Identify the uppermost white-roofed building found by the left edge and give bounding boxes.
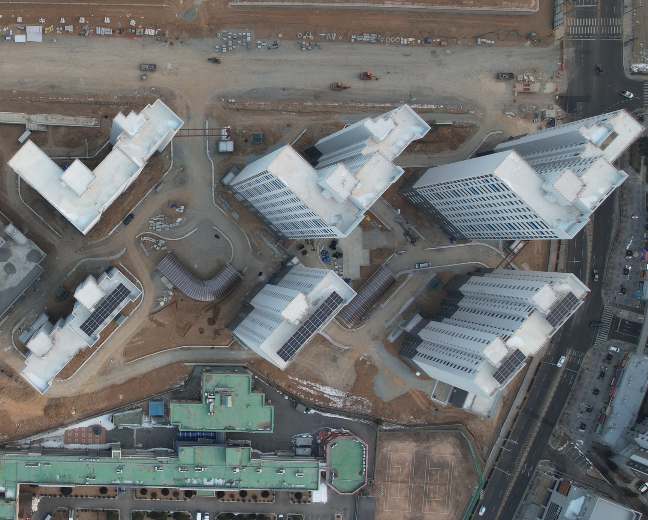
[7,99,183,239]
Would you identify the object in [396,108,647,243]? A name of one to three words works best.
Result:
building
